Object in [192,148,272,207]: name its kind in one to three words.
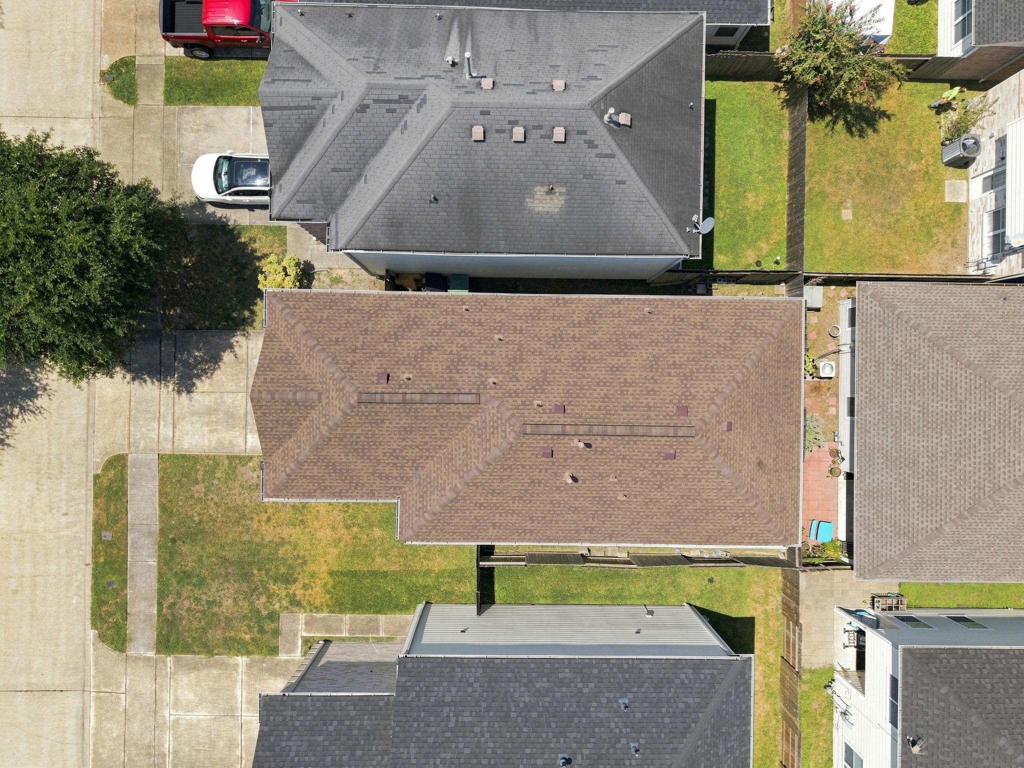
car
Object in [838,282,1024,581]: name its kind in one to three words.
house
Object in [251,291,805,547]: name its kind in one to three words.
house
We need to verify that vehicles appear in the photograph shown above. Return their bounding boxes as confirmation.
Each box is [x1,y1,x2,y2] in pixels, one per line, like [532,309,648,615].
[156,0,308,55]
[192,148,272,207]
